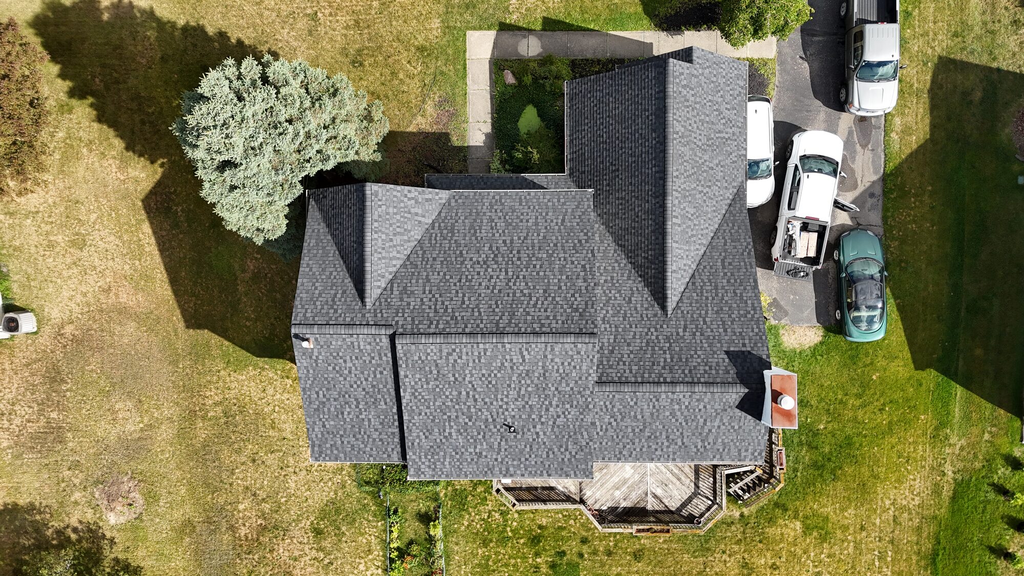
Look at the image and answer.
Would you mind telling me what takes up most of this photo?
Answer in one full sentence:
The largest share of the image is taken up by grass.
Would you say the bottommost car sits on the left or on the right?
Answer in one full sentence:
The bottommost car sits on the right side.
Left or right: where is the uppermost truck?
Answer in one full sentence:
You can find the uppermost truck on the right side of the picture.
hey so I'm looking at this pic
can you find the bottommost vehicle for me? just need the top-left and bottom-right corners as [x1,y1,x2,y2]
[833,228,895,343]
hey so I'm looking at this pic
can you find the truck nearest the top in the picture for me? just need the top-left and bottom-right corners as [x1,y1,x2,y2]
[838,0,908,120]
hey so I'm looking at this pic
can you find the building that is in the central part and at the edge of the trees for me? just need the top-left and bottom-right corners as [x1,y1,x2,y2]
[290,45,797,482]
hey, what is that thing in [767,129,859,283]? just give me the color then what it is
white truck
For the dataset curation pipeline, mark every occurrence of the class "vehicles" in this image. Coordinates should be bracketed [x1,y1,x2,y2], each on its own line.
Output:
[833,228,895,343]
[838,0,908,120]
[767,129,859,283]
[745,97,783,207]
